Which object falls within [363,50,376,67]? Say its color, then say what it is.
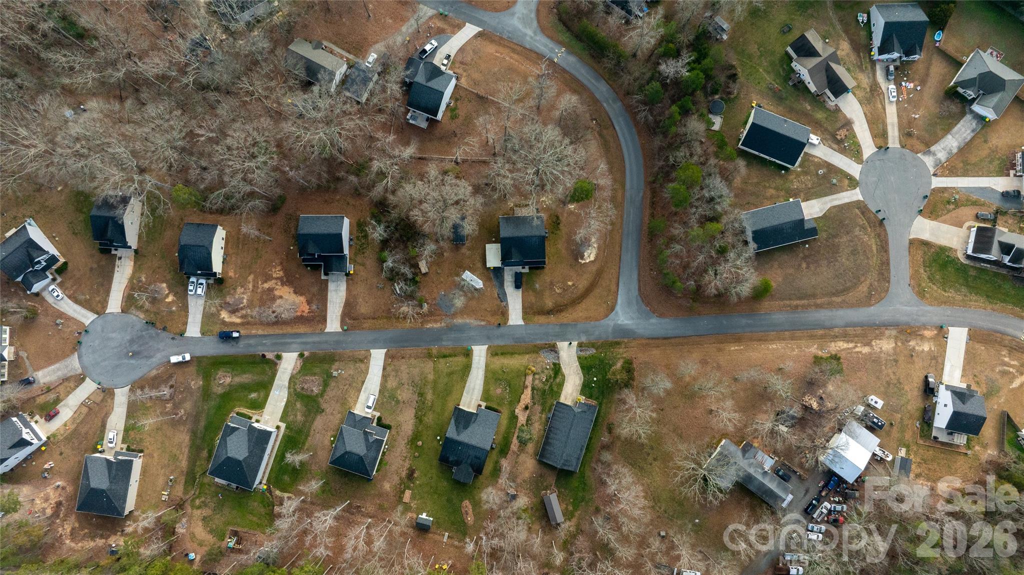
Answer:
white vehicle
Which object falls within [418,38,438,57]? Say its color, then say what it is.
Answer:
white vehicle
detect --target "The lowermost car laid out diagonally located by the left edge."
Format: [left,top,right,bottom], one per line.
[41,407,59,423]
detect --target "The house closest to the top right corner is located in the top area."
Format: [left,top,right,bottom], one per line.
[947,45,1024,120]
